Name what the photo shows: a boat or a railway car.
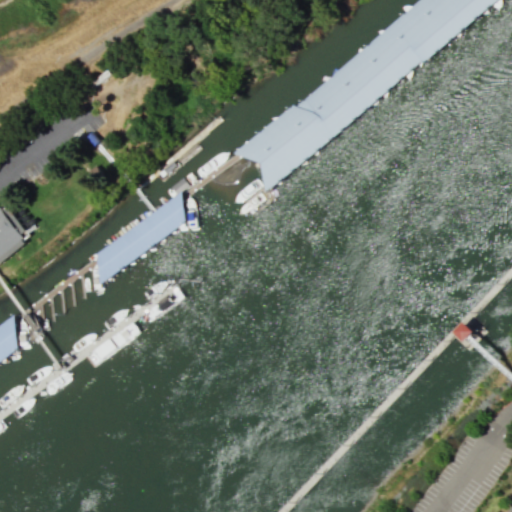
boat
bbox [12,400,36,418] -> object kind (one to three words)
boat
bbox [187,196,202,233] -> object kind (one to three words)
boat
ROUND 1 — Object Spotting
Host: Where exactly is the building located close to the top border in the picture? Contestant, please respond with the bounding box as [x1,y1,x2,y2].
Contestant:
[235,0,498,190]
